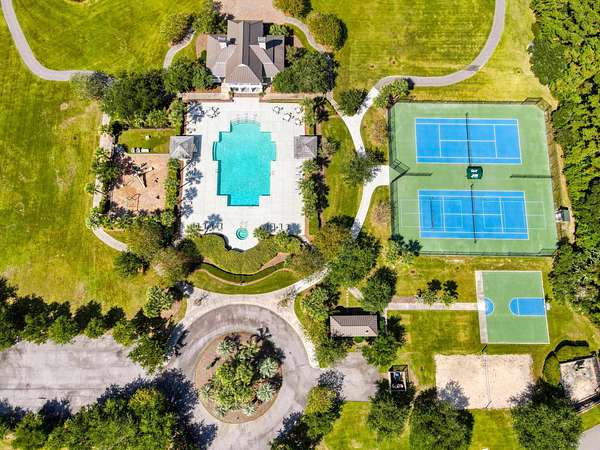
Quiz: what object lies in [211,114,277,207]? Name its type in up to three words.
swimming pool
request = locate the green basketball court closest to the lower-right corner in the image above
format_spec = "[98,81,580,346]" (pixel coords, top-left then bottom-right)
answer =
[476,271,550,344]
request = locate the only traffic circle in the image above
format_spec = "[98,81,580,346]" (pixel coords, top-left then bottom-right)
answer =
[166,302,312,450]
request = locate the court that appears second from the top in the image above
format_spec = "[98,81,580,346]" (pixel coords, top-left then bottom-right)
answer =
[391,178,557,255]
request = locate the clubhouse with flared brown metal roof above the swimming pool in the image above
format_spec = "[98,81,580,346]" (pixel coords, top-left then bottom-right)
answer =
[206,19,284,98]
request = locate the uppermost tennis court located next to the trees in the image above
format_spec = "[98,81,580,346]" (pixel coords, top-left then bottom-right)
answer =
[390,103,551,178]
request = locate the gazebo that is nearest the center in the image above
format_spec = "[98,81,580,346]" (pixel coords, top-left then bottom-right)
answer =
[293,136,318,161]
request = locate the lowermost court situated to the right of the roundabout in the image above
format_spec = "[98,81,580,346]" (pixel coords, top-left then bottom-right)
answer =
[436,353,533,410]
